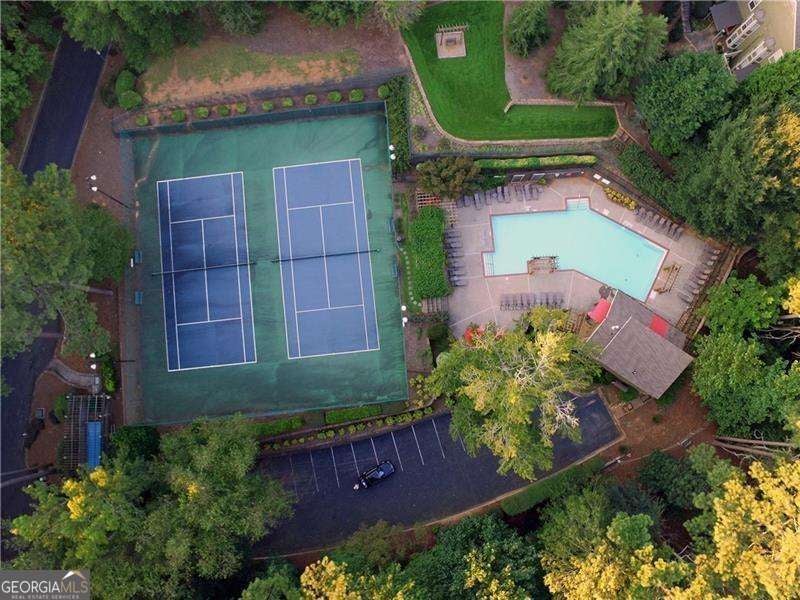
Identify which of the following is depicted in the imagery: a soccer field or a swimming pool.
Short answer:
swimming pool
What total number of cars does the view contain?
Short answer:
1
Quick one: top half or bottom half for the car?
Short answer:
bottom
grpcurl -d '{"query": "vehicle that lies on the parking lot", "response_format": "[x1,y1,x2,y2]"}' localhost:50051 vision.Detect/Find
[357,462,398,492]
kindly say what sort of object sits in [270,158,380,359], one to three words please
tennis court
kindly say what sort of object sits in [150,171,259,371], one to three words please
tennis court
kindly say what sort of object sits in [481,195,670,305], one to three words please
swimming pool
